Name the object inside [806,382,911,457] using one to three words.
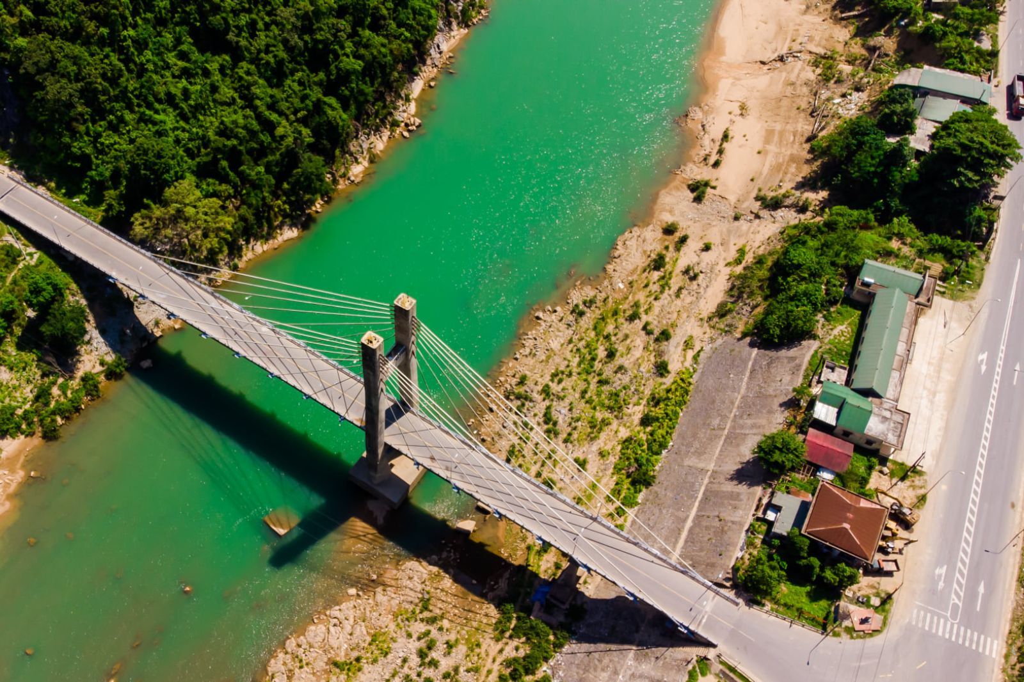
building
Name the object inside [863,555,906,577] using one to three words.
truck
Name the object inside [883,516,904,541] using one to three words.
work vehicle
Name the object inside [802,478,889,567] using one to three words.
house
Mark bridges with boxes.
[0,167,744,647]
